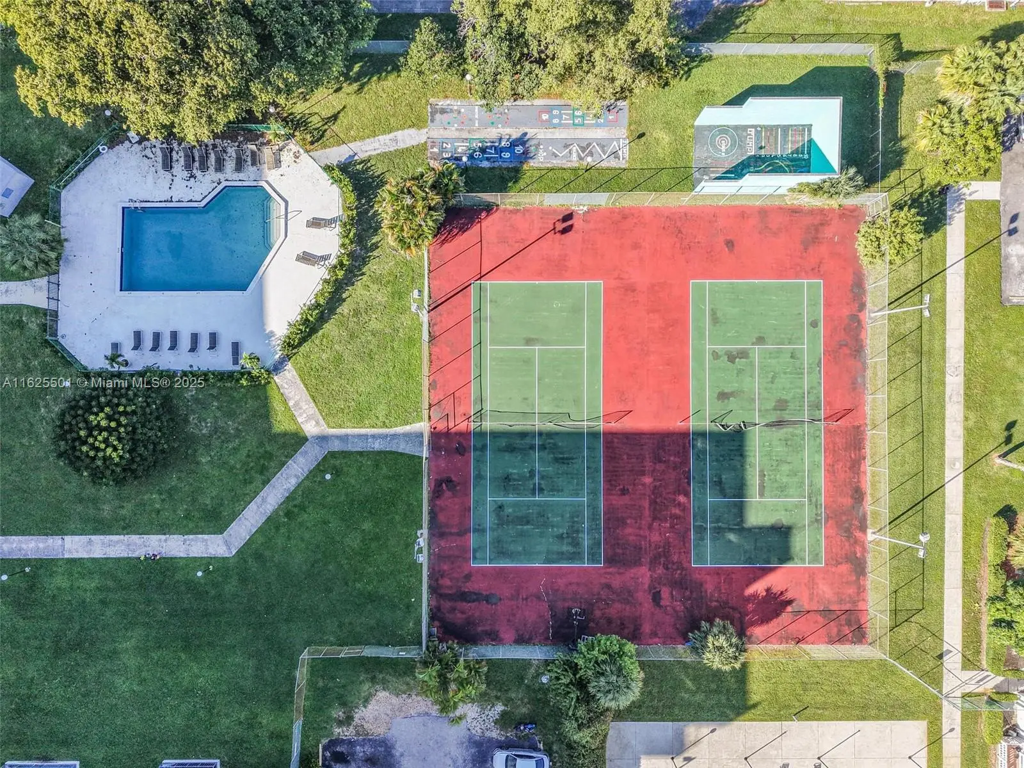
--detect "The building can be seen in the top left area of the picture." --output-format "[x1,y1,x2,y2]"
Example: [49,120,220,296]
[0,157,38,217]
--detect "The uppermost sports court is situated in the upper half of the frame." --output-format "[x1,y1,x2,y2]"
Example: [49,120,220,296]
[694,94,843,193]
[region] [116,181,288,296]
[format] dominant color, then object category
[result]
blue swimming pool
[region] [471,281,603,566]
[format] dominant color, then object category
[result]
green tennis court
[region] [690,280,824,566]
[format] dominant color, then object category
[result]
green tennis court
